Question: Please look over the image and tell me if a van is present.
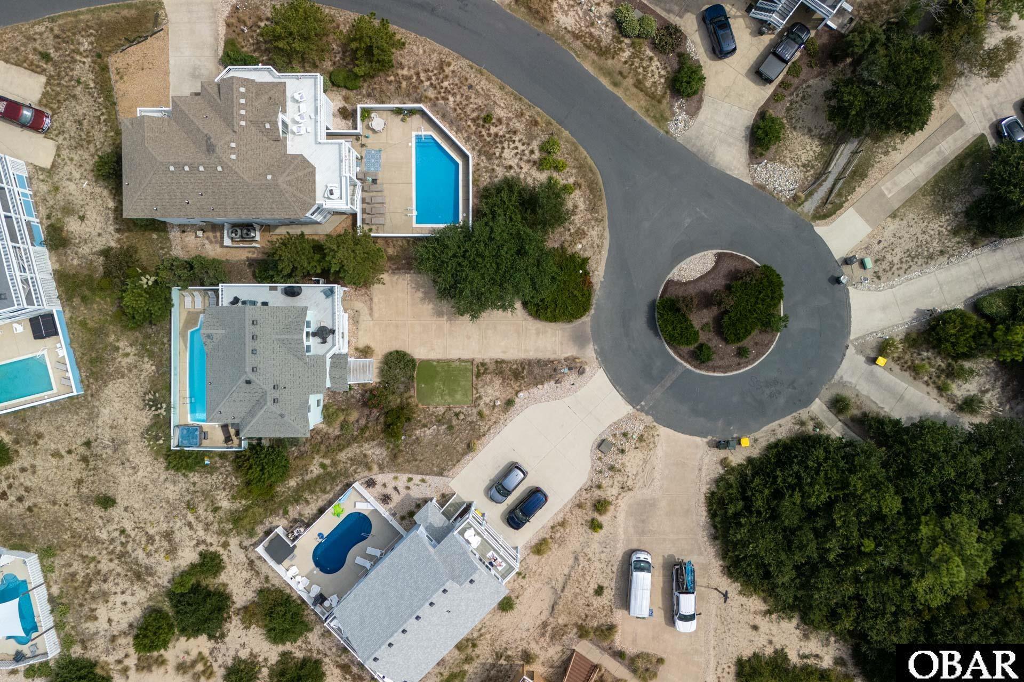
Yes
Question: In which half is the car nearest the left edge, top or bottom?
top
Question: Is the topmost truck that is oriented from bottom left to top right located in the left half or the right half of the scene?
right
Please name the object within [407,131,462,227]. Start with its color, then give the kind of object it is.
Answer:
blue swimming pool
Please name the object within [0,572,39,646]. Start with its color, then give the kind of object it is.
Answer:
blue swimming pool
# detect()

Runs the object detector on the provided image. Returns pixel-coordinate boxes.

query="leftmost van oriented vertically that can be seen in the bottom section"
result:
[626,548,654,620]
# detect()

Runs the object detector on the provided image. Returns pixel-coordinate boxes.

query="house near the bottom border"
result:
[324,492,519,682]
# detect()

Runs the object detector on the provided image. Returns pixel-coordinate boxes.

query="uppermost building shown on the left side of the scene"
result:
[121,65,366,225]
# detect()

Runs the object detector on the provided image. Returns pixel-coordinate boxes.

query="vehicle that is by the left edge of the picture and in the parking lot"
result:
[0,97,56,133]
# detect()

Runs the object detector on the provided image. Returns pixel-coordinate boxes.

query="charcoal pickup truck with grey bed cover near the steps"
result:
[755,23,807,88]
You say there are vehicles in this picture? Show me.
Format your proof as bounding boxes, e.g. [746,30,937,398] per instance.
[626,548,654,620]
[992,107,1024,157]
[755,23,807,88]
[505,482,552,530]
[0,97,56,133]
[702,7,736,63]
[671,562,699,629]
[487,458,529,505]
